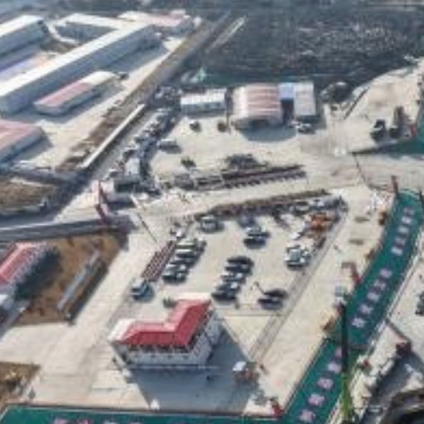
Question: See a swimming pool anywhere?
No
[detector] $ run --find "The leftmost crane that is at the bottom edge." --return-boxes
[322,304,362,424]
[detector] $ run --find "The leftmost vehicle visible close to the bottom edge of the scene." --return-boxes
[267,386,283,415]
